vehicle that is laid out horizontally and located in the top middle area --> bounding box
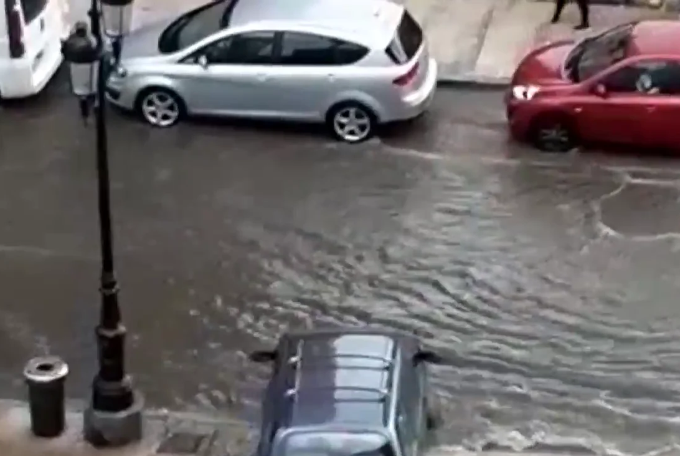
[110,0,435,140]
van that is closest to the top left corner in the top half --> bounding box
[0,0,68,104]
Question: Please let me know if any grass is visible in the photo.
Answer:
No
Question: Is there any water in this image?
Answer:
Yes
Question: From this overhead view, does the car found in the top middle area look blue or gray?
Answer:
gray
